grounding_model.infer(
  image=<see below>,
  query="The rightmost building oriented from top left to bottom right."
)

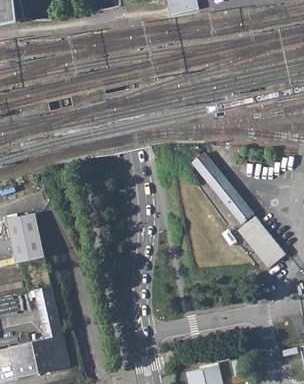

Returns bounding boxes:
[238,216,288,268]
